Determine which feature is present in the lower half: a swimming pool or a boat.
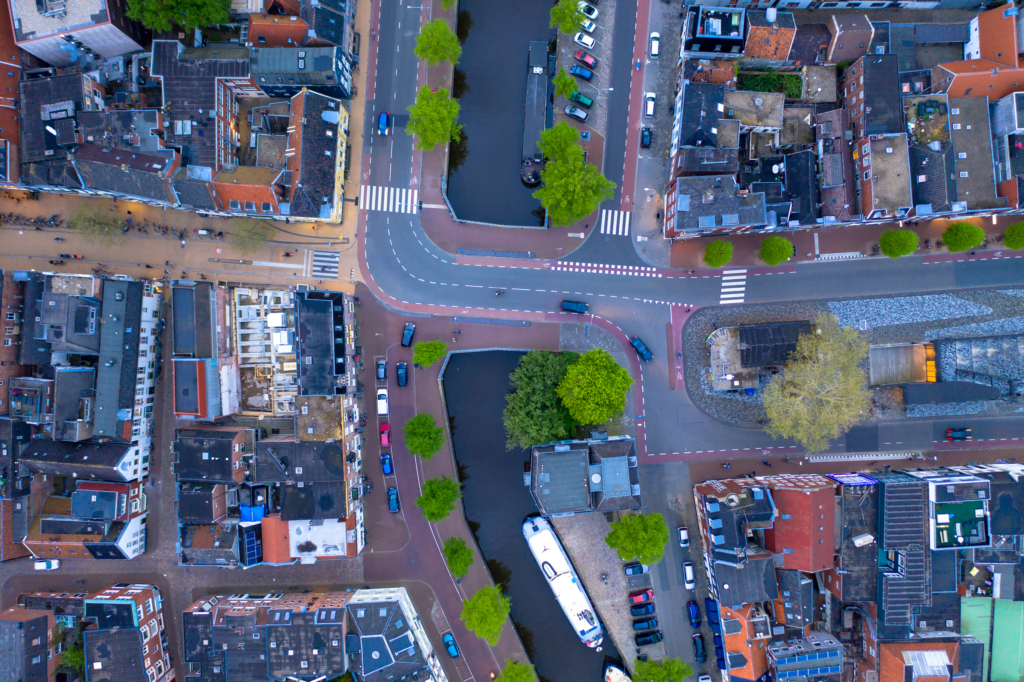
boat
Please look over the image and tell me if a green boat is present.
No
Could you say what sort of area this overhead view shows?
residential area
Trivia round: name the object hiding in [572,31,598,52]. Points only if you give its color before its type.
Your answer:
white car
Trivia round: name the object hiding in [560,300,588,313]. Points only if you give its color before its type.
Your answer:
blue vehicle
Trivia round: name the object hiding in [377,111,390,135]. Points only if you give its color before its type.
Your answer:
blue vehicle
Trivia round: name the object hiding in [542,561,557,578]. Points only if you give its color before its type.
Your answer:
white boat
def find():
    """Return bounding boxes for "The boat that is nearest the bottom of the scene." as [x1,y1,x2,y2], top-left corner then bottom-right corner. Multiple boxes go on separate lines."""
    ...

[602,661,633,682]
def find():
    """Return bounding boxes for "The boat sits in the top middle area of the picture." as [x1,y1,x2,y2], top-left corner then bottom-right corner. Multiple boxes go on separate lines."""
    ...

[521,41,549,186]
